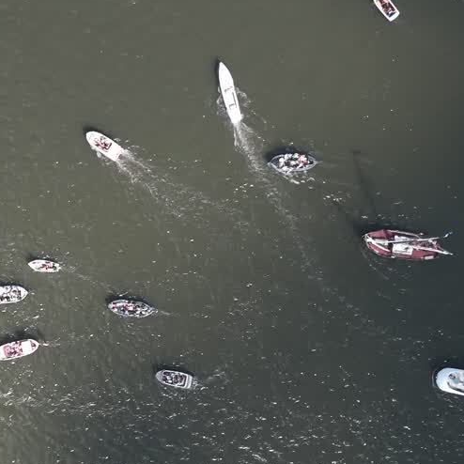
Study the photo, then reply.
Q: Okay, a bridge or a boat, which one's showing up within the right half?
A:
boat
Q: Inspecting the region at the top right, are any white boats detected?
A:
Yes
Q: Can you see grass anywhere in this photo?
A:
No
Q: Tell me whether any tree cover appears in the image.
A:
No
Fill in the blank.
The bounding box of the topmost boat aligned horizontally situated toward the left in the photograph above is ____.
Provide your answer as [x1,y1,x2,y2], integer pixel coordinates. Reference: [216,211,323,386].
[27,260,65,273]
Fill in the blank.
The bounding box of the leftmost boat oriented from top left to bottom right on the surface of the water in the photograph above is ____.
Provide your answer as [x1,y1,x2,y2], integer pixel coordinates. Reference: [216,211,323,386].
[87,130,126,163]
